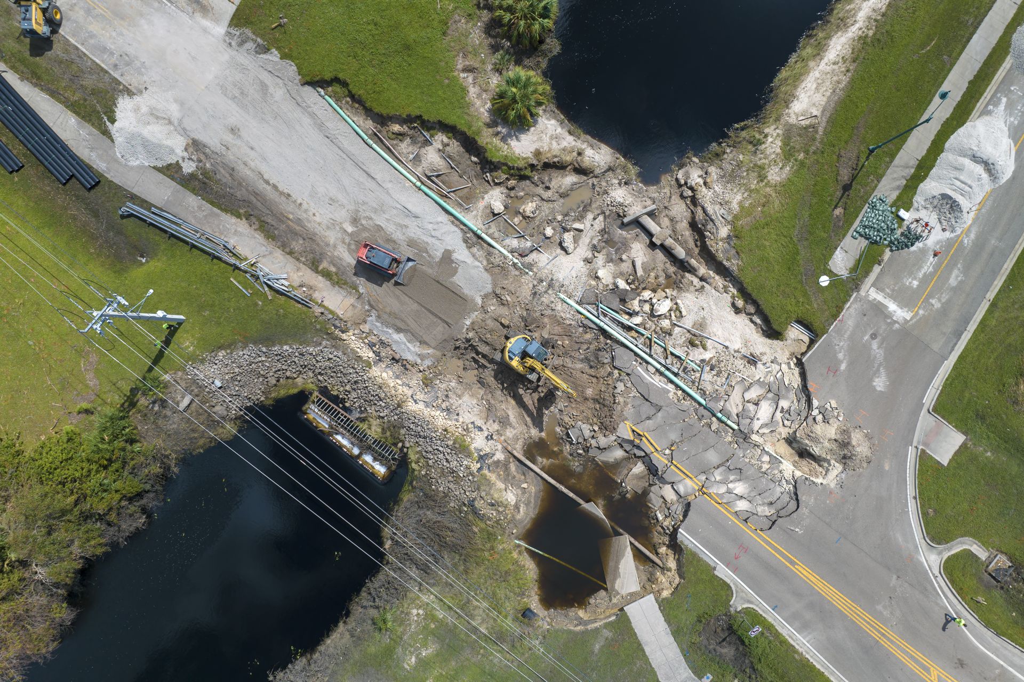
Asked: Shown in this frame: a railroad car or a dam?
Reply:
dam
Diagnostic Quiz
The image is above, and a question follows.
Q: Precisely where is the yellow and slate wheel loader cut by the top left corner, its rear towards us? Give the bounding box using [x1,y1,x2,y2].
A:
[19,0,67,45]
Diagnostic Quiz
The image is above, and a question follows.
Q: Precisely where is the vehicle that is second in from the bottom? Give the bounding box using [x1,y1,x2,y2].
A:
[351,239,411,286]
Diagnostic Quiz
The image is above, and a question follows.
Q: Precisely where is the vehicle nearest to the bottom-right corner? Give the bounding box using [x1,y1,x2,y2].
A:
[495,328,580,396]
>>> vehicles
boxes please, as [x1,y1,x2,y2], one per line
[351,239,411,286]
[19,0,67,45]
[495,328,580,396]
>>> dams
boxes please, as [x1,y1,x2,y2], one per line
[302,393,399,482]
